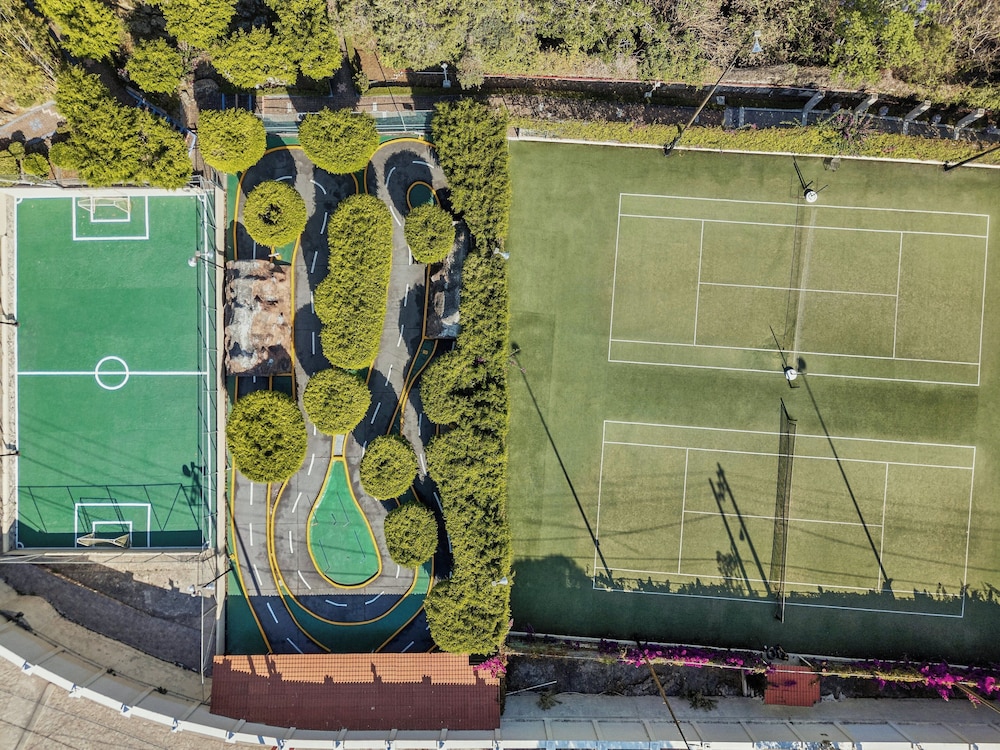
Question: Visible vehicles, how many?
0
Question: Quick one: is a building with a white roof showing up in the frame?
No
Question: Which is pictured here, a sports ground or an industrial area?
sports ground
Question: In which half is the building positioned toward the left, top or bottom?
bottom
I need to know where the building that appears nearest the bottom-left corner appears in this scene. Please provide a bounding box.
[201,644,500,737]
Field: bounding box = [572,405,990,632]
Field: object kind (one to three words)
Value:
tennis court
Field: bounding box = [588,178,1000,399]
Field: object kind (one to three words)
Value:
tennis court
